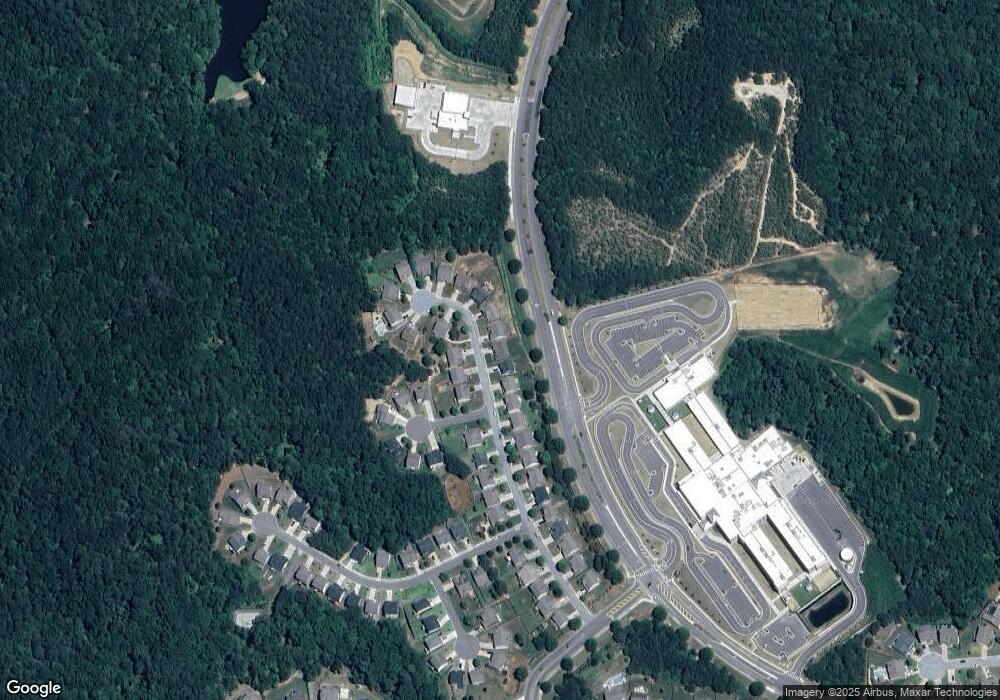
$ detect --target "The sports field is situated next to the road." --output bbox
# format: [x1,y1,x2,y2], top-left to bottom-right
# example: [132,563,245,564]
[735,283,823,330]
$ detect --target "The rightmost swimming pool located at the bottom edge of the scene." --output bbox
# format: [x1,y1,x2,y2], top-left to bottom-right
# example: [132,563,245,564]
[873,668,889,685]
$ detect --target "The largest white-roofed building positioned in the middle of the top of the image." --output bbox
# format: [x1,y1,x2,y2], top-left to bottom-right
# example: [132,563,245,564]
[438,91,470,141]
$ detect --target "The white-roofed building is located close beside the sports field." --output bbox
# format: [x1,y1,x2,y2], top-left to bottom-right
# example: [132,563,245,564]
[650,356,829,598]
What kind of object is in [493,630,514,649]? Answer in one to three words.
house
